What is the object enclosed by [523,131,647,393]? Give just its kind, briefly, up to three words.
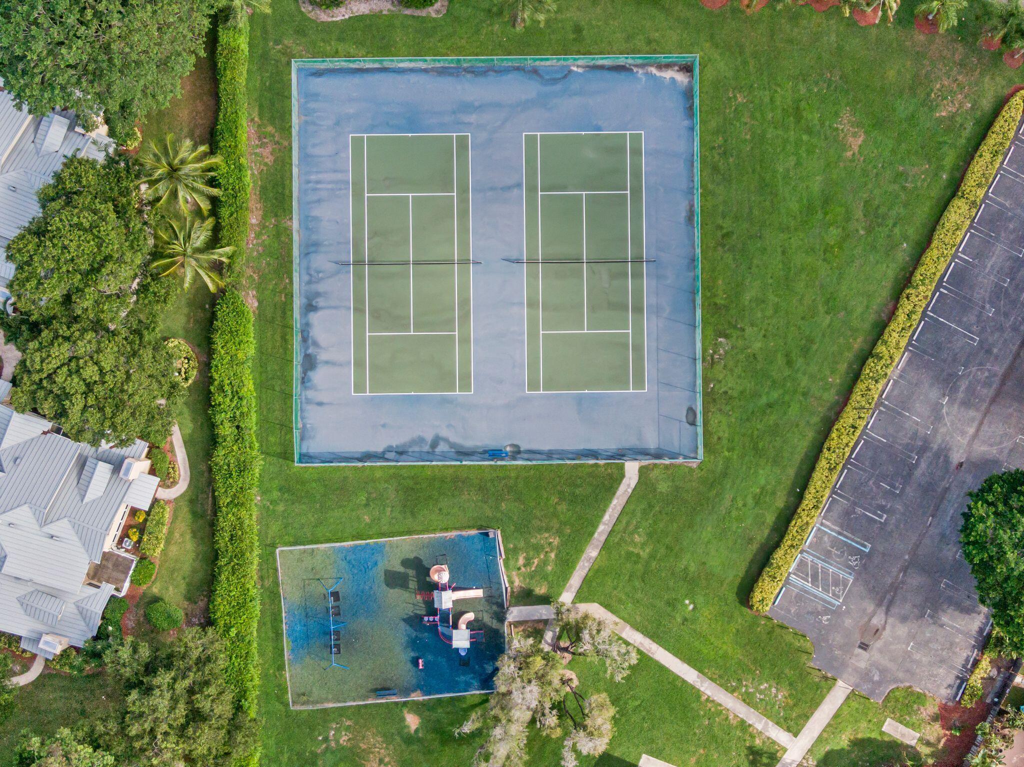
tennis court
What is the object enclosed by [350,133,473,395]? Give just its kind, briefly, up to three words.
tennis court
